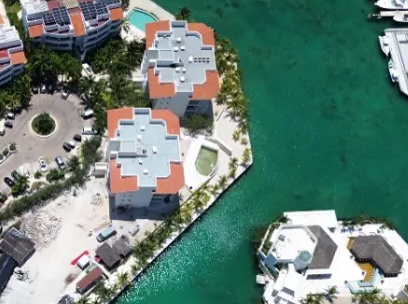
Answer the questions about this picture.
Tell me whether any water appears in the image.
Yes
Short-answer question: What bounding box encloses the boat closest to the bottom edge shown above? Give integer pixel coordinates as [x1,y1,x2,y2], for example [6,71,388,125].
[387,57,401,84]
